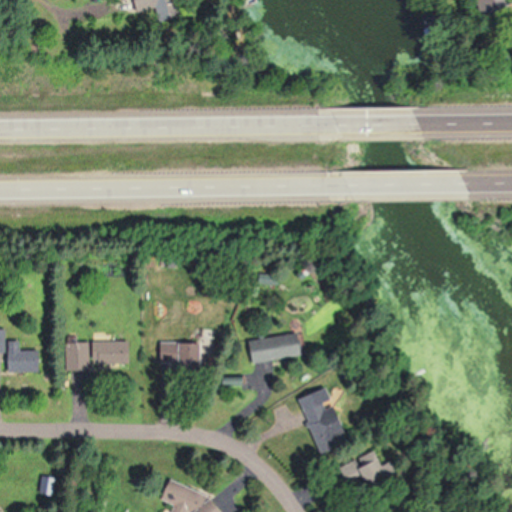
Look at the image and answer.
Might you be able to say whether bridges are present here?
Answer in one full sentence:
Yes, there's a bridge down there.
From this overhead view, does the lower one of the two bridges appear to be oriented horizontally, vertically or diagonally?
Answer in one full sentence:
In this picture, the lower one of the two bridges is oriented horizontally.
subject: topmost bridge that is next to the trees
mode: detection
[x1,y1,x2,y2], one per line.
[320,105,423,143]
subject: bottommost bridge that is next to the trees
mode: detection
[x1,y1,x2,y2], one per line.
[330,169,470,204]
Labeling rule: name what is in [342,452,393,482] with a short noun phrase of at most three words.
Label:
house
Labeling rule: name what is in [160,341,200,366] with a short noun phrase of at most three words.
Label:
house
